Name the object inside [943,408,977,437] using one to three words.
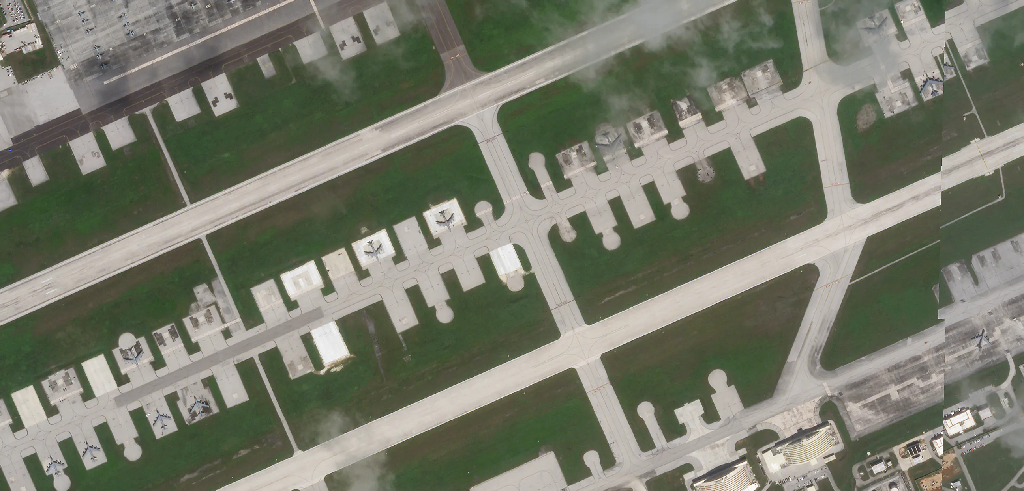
building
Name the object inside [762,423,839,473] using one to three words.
hangar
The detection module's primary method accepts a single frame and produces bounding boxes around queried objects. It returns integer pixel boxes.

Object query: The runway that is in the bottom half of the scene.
[217,171,941,491]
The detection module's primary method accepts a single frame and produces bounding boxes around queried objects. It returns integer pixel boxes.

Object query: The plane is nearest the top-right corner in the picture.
[919,73,945,95]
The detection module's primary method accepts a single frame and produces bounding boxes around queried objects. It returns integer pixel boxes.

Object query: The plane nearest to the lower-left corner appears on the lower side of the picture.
[46,456,64,476]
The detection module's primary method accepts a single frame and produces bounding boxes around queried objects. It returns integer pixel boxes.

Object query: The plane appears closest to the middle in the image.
[437,212,455,231]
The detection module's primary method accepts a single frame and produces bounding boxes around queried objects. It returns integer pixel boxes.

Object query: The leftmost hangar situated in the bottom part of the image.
[693,459,760,491]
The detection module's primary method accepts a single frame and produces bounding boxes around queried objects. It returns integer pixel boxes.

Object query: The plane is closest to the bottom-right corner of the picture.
[972,329,991,349]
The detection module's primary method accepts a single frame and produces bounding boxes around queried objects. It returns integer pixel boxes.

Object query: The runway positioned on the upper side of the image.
[0,0,736,325]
